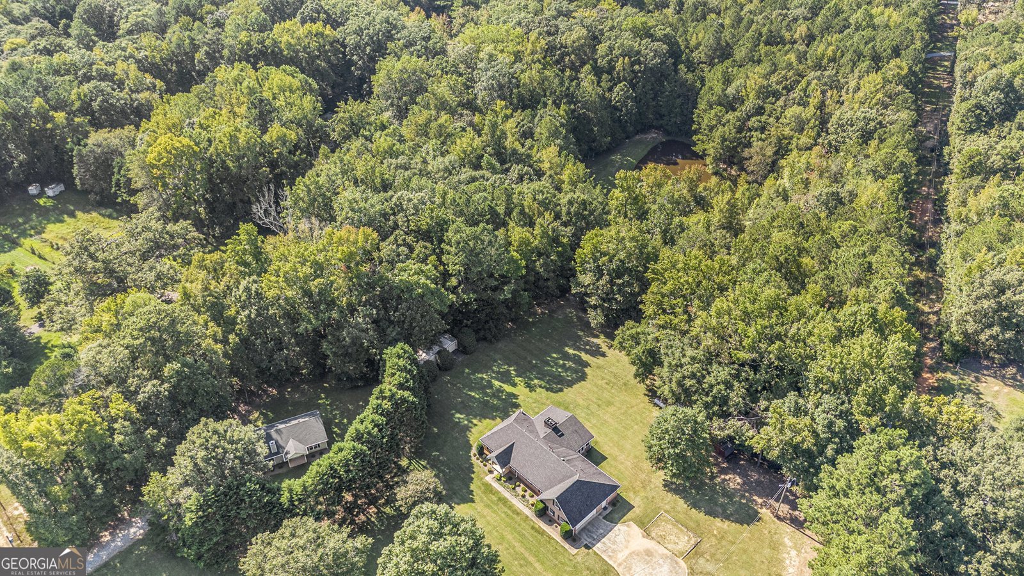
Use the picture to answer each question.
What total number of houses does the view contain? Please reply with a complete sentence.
Looking from above, you can make out 2 houses.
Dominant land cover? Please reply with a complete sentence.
The bulk of the photo consists of trees.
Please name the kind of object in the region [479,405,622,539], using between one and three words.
house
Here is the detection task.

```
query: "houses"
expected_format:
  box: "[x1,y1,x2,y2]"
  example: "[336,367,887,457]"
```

[479,405,622,539]
[248,409,329,472]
